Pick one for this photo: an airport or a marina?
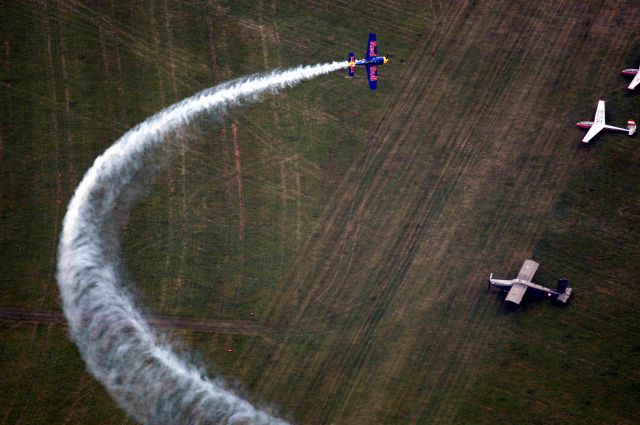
airport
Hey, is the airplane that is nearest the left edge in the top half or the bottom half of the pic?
top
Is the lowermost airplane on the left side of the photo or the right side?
right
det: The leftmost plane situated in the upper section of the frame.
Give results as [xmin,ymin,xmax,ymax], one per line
[347,33,389,89]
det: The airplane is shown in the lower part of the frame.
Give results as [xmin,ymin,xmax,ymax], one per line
[491,261,571,304]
